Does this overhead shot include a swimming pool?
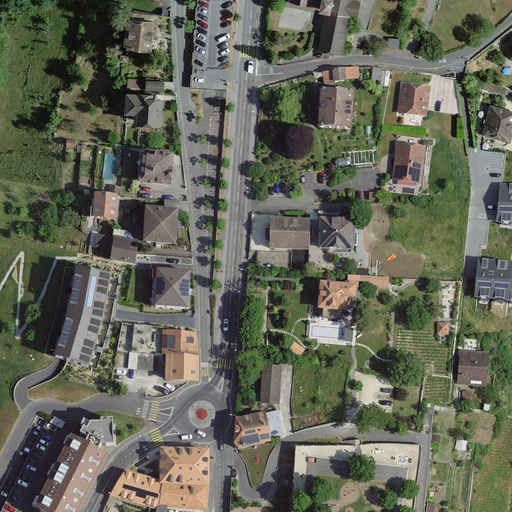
Yes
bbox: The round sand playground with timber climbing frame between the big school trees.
[328,484,364,512]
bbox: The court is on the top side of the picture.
[279,8,311,30]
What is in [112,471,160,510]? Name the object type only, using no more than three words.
house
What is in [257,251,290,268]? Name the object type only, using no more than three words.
building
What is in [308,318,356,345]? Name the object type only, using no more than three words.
swimming pool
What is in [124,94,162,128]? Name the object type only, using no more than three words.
house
